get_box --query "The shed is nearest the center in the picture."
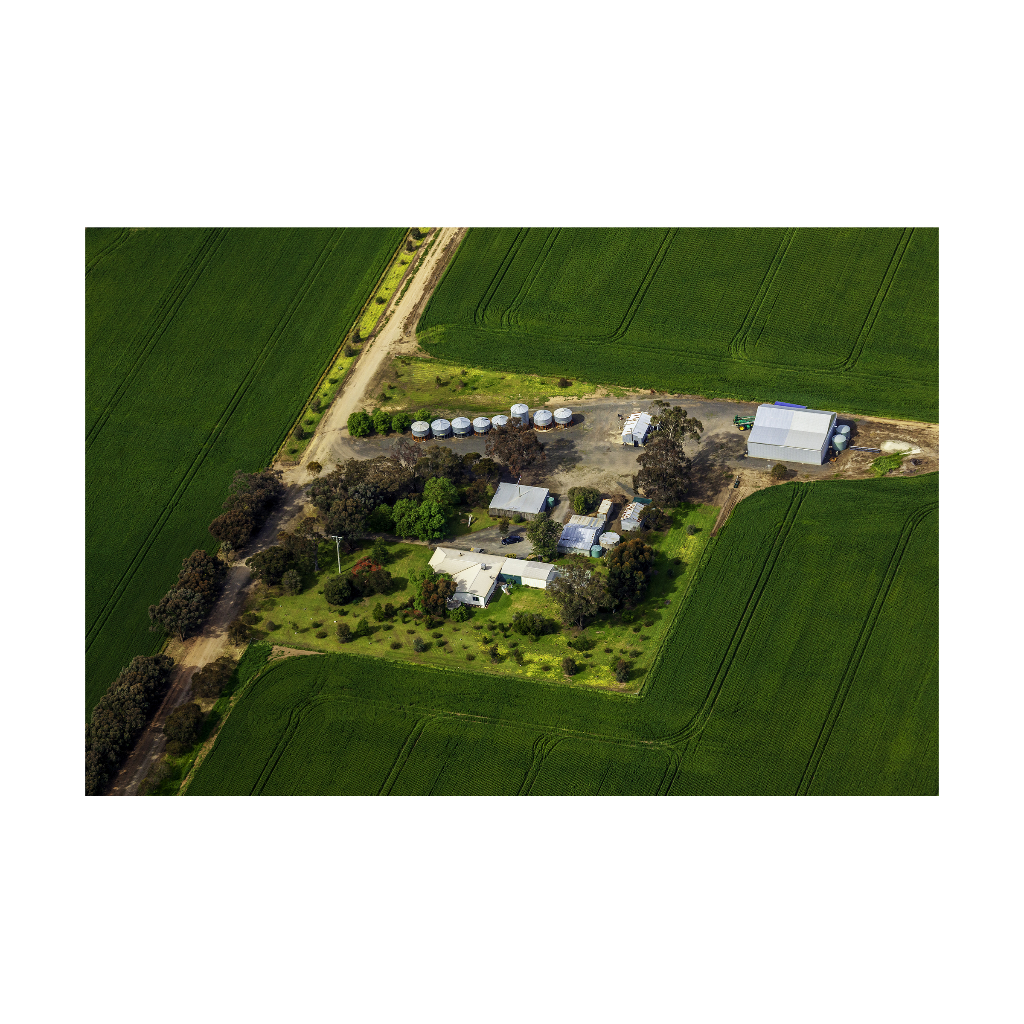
[488,482,550,522]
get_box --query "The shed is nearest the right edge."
[747,404,838,465]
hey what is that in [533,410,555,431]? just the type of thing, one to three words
silo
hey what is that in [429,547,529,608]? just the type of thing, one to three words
house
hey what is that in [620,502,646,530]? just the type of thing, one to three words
shed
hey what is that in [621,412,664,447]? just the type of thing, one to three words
building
